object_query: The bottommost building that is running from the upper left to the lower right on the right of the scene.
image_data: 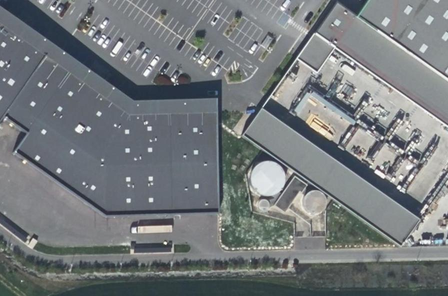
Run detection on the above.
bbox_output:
[244,109,420,245]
